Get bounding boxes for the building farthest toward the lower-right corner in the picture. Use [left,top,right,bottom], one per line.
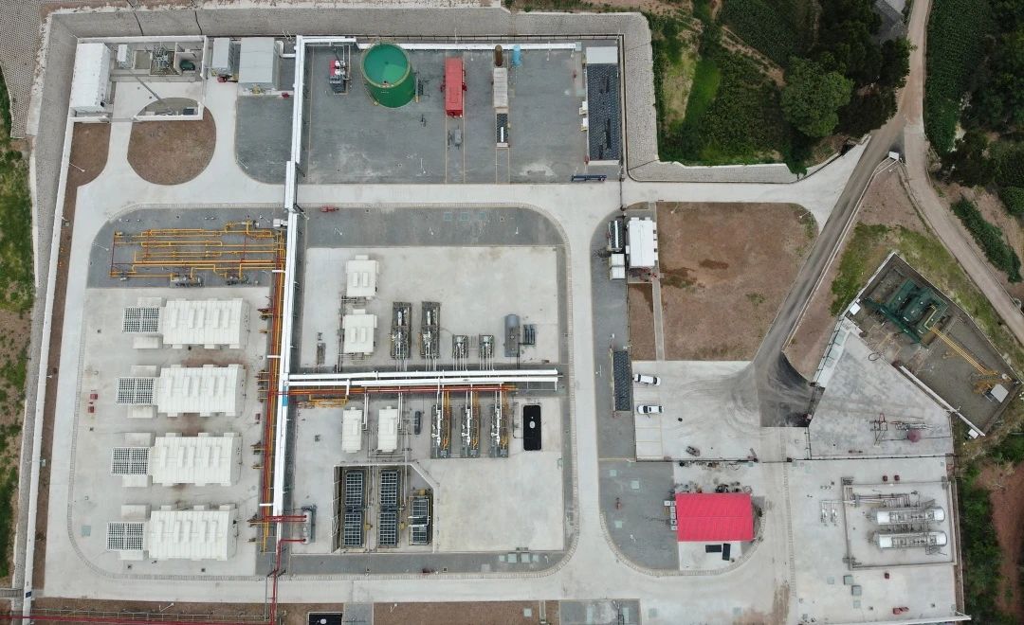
[983,382,1010,404]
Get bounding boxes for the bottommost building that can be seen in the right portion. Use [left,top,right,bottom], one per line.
[674,493,755,542]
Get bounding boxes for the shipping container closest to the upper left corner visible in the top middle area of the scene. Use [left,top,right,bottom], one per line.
[442,58,469,120]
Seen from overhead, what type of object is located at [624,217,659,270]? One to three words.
building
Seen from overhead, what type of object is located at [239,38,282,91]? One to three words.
house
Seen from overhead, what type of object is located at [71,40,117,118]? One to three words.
building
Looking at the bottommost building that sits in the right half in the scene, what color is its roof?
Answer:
red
